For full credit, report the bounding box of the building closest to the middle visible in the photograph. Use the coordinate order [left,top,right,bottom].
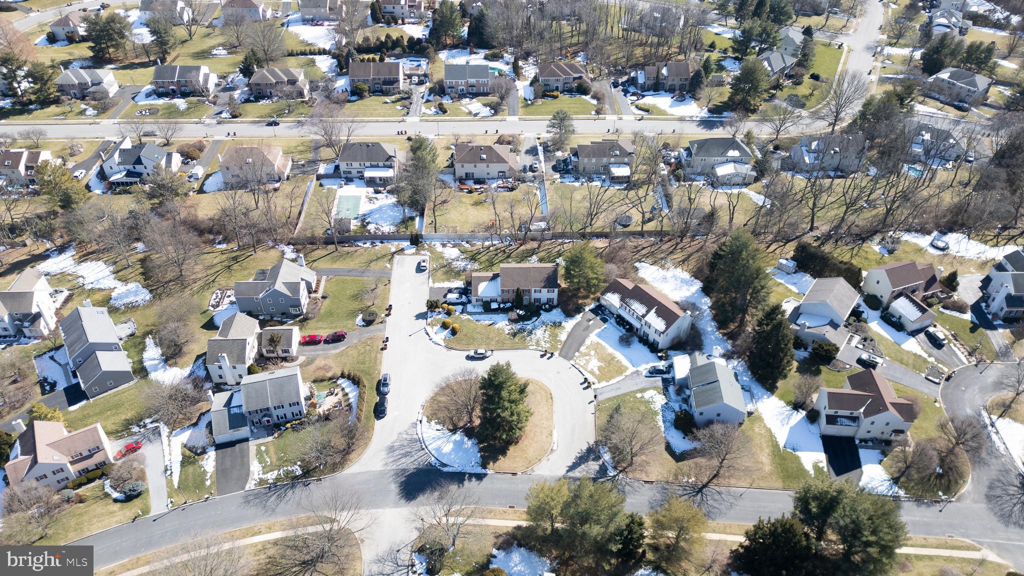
[464,259,562,306]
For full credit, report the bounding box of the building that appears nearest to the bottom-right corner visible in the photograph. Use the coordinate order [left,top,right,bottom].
[815,366,916,441]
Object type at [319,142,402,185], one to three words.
house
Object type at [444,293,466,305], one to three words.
vehicle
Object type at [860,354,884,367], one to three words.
vehicle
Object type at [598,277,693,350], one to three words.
house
